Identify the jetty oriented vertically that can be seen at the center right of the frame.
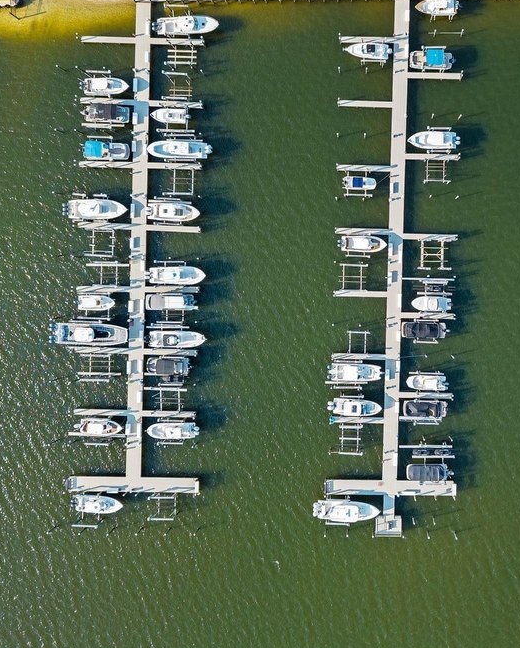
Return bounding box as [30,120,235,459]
[324,0,466,540]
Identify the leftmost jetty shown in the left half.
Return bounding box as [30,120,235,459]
[67,1,208,496]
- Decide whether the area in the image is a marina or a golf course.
marina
